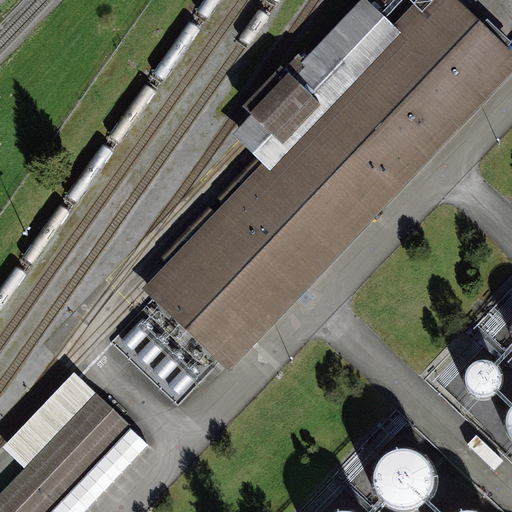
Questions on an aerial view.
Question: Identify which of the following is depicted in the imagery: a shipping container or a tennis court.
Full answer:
Visible in the photo is a shipping container.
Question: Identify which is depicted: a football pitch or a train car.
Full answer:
Of the two, only a train car appears.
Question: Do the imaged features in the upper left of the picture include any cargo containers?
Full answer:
No, the scene shows no cargo container in the upper left of the picture.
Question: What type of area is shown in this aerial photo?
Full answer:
This image shows an industrial area.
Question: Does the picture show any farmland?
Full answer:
No, there's no farmland in this view.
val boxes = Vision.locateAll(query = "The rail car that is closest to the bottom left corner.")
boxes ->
[0,262,30,313]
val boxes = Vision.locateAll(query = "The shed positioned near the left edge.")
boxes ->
[0,394,129,512]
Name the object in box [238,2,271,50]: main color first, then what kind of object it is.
white rail car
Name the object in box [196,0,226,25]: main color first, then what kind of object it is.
white rail car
